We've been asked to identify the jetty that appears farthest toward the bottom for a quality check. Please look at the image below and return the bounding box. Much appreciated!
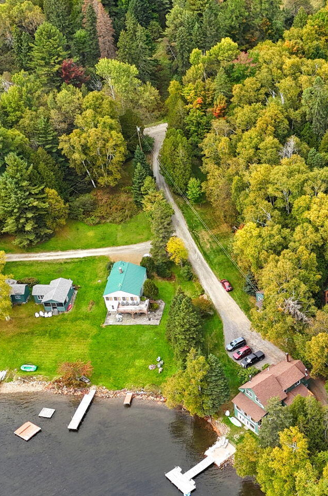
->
[165,456,214,496]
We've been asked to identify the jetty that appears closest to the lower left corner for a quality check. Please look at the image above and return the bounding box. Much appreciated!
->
[67,389,98,430]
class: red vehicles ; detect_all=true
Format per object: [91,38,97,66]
[220,278,233,292]
[231,345,252,360]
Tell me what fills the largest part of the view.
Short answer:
trees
